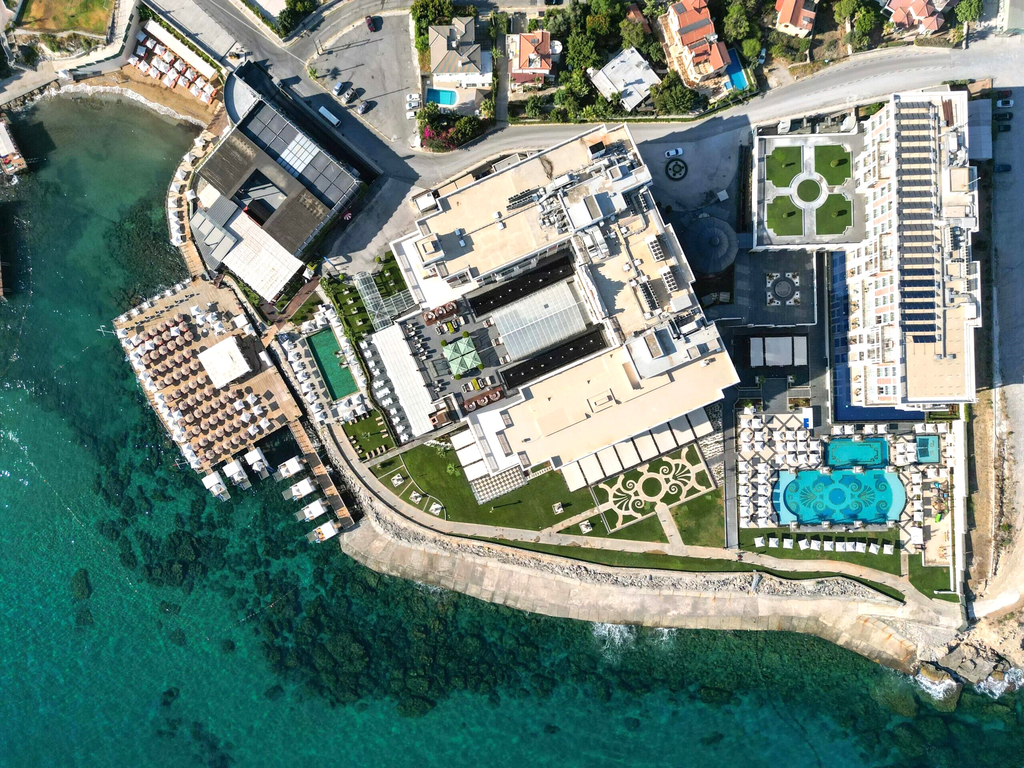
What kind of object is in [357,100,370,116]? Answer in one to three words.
vehicle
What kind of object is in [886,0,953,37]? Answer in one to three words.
house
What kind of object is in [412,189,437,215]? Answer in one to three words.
shed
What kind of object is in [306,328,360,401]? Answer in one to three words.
swimming pool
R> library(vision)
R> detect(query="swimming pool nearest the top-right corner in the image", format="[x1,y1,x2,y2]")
[725,47,750,92]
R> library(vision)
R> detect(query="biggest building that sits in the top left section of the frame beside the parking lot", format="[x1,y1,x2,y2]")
[189,61,367,303]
